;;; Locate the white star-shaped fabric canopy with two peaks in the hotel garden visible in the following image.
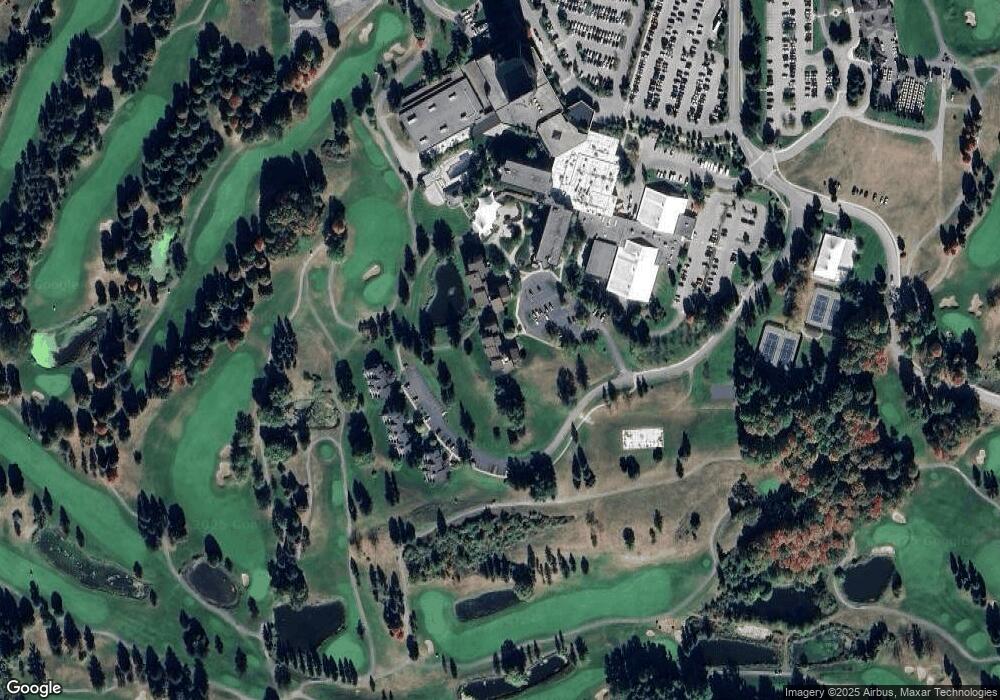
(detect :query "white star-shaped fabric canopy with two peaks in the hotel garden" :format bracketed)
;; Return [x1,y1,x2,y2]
[473,192,501,241]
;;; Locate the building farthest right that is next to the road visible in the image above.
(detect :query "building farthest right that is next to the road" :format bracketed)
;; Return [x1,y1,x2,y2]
[858,0,894,34]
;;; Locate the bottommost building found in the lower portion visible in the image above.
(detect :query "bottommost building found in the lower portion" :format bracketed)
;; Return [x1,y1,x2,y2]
[419,447,452,485]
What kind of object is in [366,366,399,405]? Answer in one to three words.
house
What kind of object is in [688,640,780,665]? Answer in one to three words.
pond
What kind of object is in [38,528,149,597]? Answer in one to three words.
pond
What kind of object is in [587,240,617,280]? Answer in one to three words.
building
